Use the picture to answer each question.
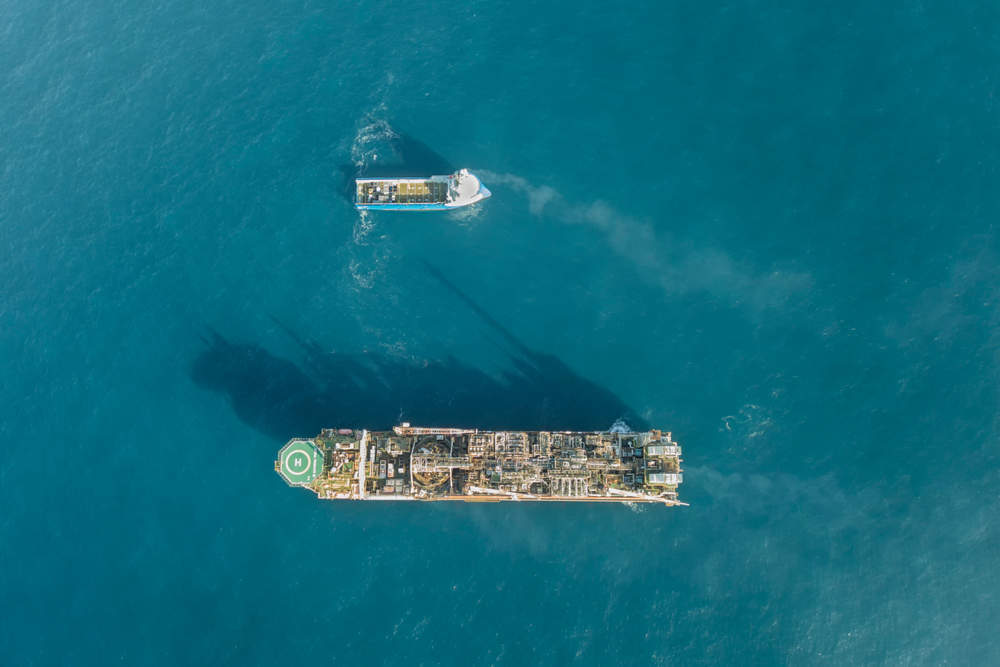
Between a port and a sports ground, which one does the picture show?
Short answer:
port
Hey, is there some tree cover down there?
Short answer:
No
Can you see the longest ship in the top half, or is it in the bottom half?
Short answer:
bottom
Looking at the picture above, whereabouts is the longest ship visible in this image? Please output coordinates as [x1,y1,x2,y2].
[271,421,688,507]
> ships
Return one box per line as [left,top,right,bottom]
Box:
[358,168,491,210]
[271,421,688,507]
